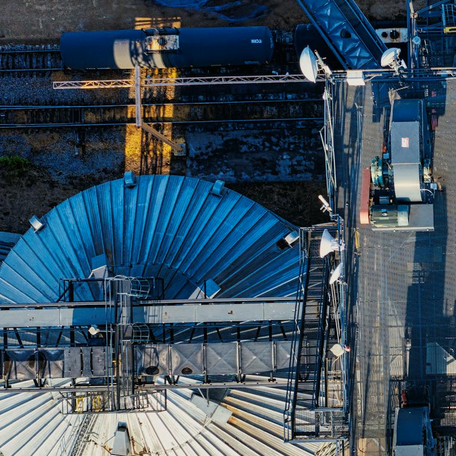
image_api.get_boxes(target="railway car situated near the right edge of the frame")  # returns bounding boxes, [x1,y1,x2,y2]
[291,19,454,67]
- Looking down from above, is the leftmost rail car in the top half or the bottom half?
top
